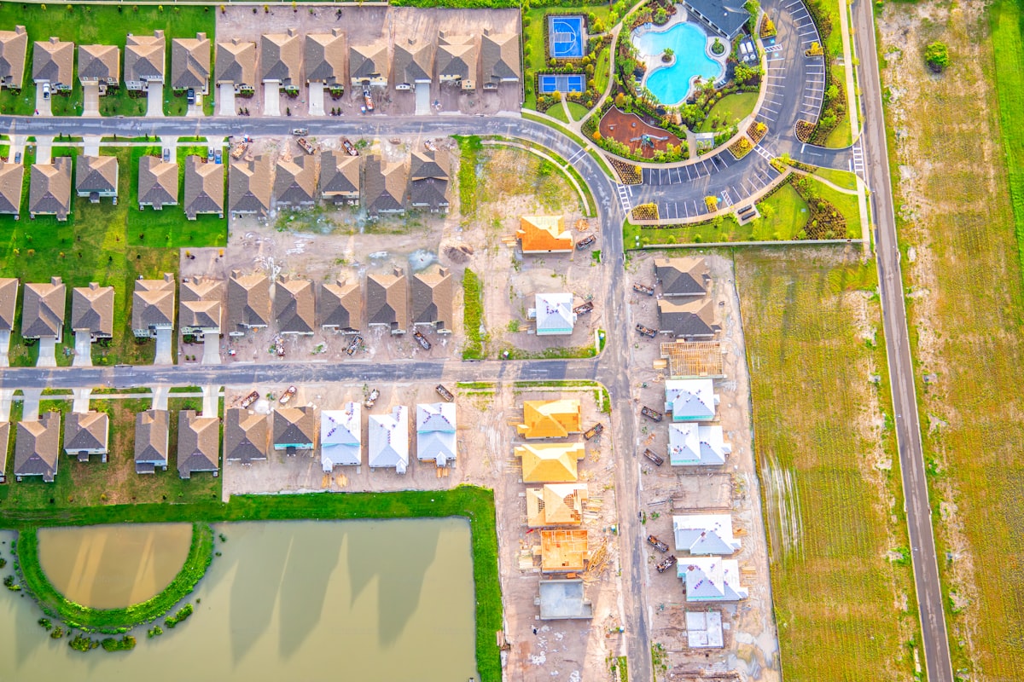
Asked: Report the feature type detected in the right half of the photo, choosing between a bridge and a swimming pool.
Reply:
swimming pool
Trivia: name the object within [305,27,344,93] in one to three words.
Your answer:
house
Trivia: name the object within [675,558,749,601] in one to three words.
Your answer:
house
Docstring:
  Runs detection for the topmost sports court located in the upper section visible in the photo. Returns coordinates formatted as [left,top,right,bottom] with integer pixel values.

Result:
[548,15,585,58]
